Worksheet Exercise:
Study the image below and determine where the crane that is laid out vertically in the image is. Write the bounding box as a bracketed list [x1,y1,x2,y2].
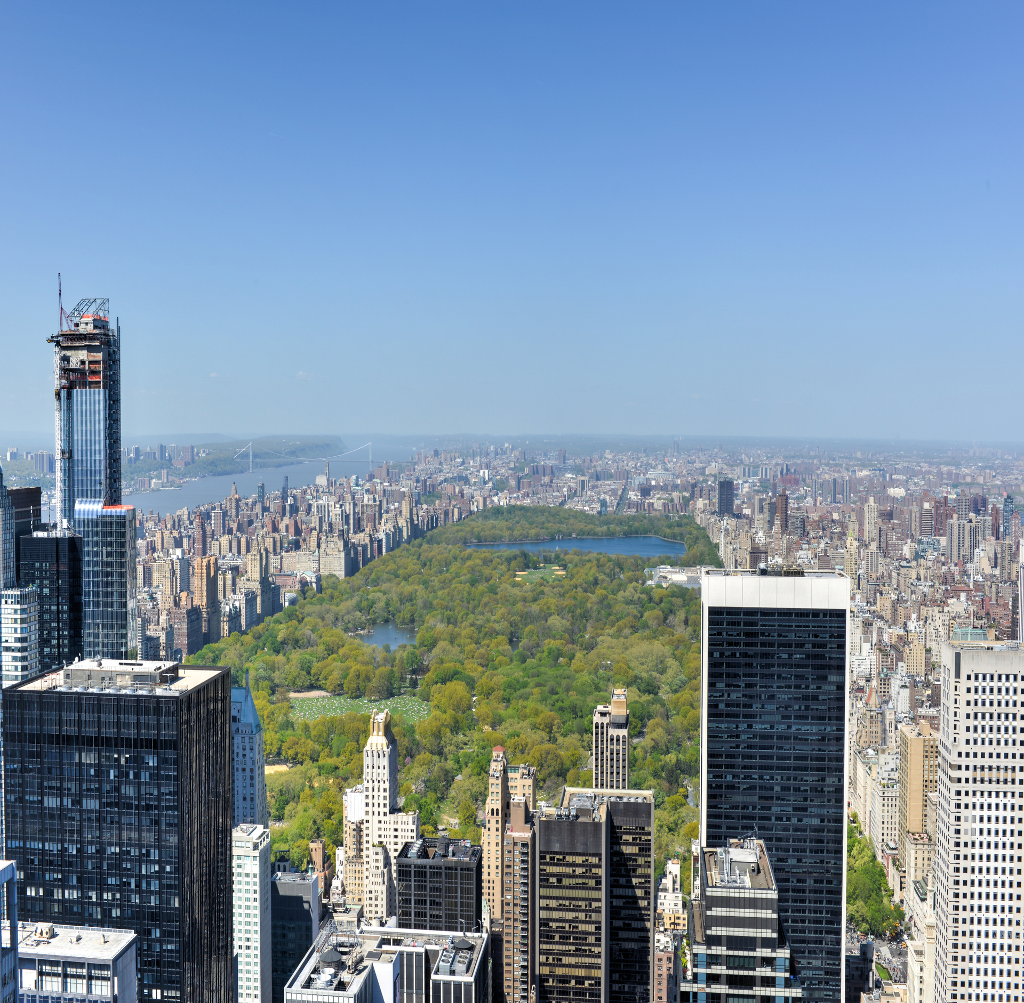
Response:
[45,273,79,530]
